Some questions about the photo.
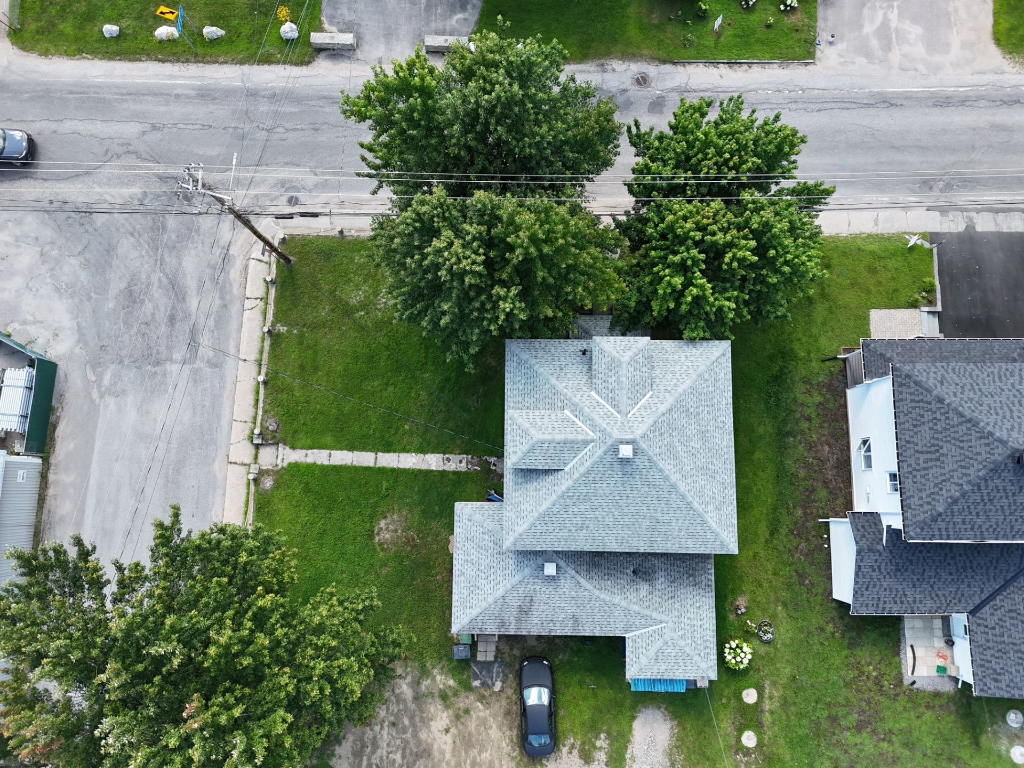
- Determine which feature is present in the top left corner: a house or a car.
car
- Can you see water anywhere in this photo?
No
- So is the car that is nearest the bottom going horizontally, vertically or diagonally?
vertically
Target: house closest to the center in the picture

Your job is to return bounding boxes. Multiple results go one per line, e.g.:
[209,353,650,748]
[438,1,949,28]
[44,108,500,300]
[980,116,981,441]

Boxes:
[451,301,738,692]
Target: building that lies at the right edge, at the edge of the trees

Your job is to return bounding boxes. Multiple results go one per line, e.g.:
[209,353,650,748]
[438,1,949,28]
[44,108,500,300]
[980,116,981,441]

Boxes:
[810,333,1024,700]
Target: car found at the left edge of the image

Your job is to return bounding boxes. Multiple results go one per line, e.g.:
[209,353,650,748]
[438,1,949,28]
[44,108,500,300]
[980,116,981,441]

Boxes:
[0,122,40,170]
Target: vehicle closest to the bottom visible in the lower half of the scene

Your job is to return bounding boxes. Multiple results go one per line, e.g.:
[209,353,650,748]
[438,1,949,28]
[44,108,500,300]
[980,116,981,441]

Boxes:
[514,654,561,760]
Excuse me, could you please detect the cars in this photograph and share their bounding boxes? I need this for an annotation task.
[0,122,40,170]
[514,654,561,760]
